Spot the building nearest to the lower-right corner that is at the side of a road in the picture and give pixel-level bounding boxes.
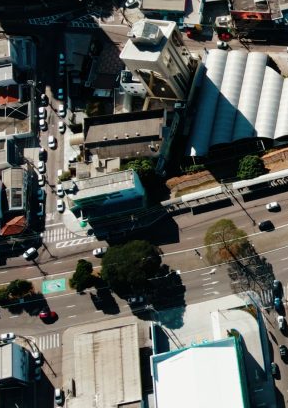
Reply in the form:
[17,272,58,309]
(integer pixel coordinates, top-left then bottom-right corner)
[153,339,261,408]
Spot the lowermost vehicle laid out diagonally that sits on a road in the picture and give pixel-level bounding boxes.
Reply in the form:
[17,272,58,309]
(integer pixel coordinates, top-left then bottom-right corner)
[21,246,40,261]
